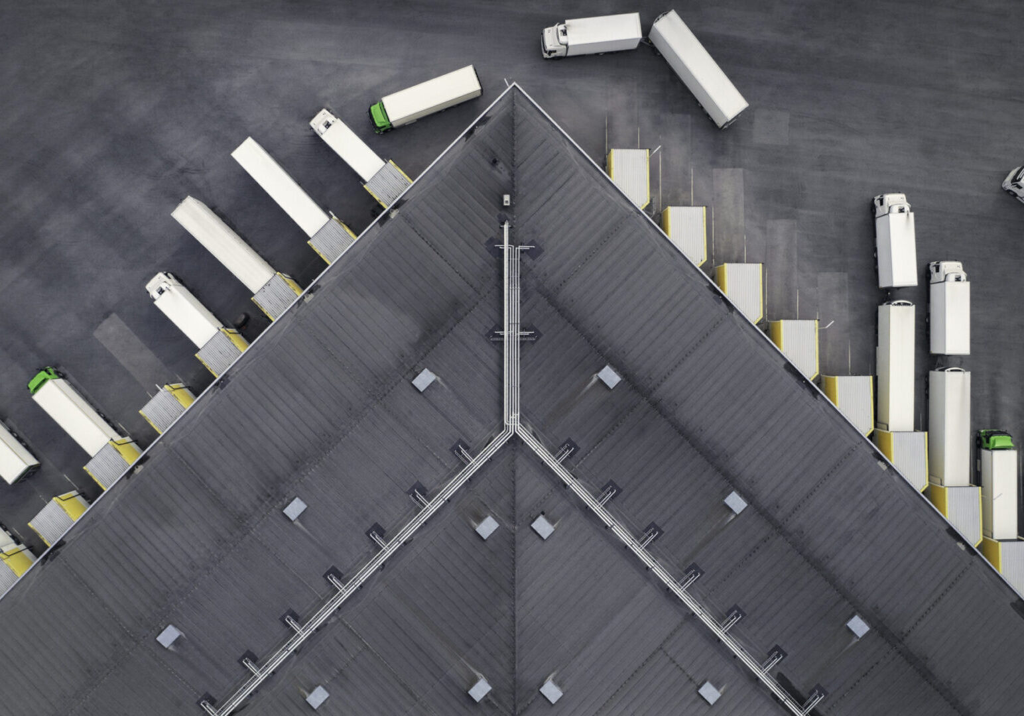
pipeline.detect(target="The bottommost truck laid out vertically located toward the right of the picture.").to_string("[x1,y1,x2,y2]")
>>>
[970,424,1018,538]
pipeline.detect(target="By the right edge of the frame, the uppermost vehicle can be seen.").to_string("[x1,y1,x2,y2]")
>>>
[1002,172,1024,210]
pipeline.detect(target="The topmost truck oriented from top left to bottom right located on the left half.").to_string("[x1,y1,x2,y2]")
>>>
[309,107,385,182]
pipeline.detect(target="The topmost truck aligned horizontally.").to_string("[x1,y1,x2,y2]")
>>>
[542,12,642,60]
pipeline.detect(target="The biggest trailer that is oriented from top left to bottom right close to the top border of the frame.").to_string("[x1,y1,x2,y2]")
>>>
[645,9,748,129]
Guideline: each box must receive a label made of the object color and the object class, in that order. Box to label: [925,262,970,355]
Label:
white truck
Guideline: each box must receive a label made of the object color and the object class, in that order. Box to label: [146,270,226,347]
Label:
white truck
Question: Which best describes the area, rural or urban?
urban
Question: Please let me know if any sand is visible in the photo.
No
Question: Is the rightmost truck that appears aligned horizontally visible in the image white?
Yes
